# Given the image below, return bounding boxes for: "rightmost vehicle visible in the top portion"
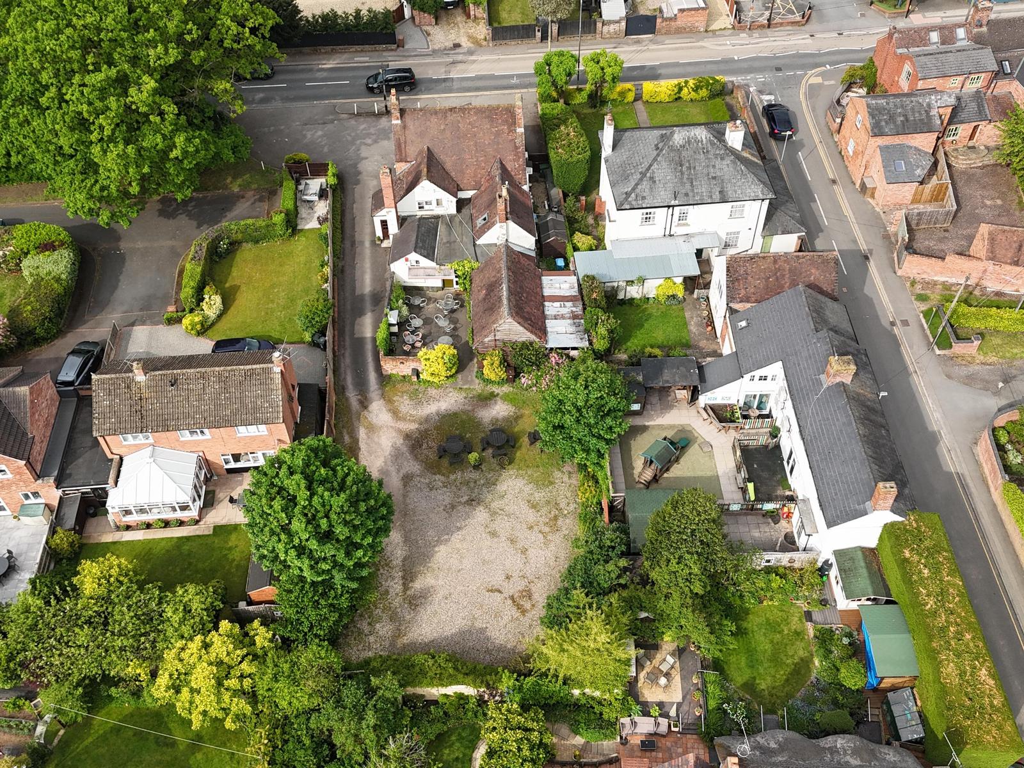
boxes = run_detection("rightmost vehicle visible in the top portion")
[758,105,800,143]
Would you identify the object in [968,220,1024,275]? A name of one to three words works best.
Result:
shed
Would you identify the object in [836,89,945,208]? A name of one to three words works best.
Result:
house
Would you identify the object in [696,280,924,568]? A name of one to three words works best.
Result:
building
